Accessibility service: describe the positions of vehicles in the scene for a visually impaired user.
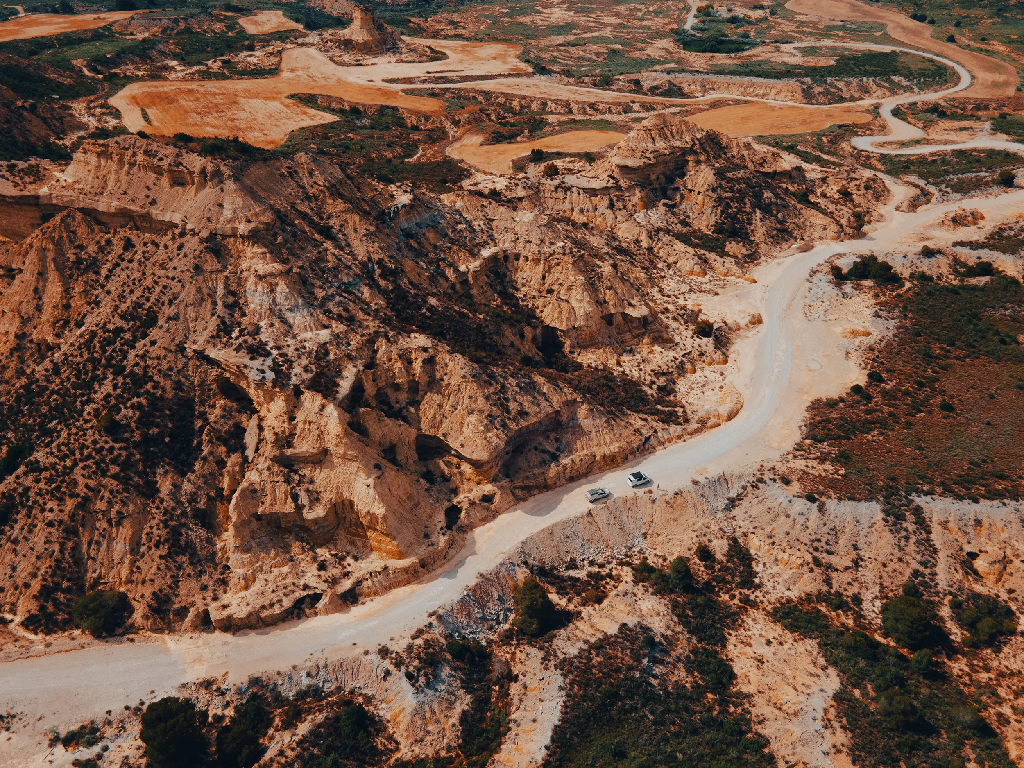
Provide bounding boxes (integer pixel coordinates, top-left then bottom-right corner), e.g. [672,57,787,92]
[586,487,611,501]
[627,471,651,487]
